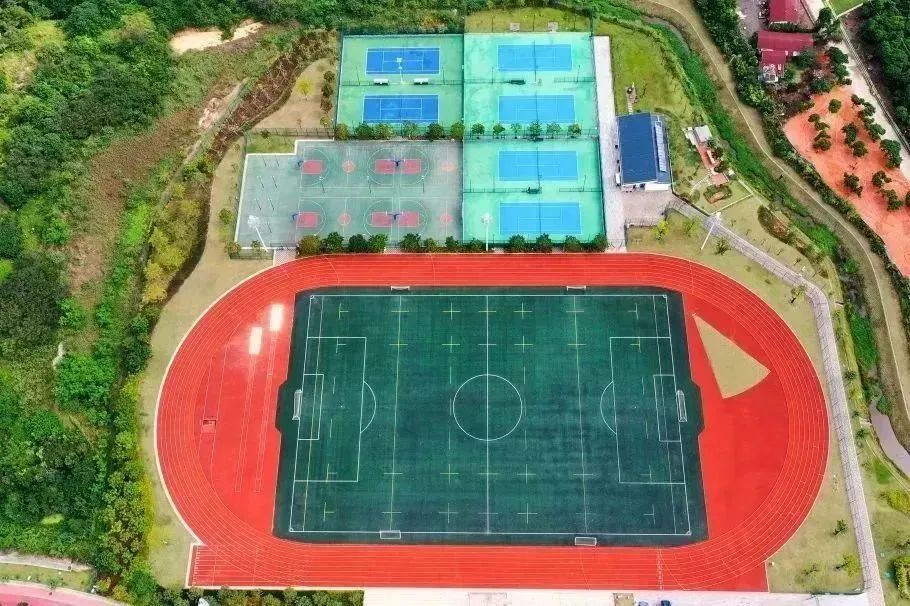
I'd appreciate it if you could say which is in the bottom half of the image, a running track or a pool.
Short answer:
running track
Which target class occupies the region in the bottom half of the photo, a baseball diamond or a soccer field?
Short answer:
soccer field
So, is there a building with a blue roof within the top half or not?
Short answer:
Yes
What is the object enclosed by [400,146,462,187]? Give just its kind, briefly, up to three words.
basketball court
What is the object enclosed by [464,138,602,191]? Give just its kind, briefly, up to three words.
tennis court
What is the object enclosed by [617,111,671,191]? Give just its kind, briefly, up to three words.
building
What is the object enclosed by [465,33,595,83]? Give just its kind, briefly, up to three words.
tennis court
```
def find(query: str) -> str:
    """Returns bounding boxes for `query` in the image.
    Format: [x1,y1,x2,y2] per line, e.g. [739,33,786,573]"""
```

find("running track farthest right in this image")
[154,251,830,594]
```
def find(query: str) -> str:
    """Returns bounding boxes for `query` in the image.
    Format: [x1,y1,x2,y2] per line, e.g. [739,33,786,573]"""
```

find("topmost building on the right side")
[763,0,797,28]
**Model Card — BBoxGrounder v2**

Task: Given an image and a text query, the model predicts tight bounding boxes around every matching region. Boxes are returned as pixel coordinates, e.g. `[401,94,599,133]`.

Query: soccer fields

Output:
[272,286,708,546]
